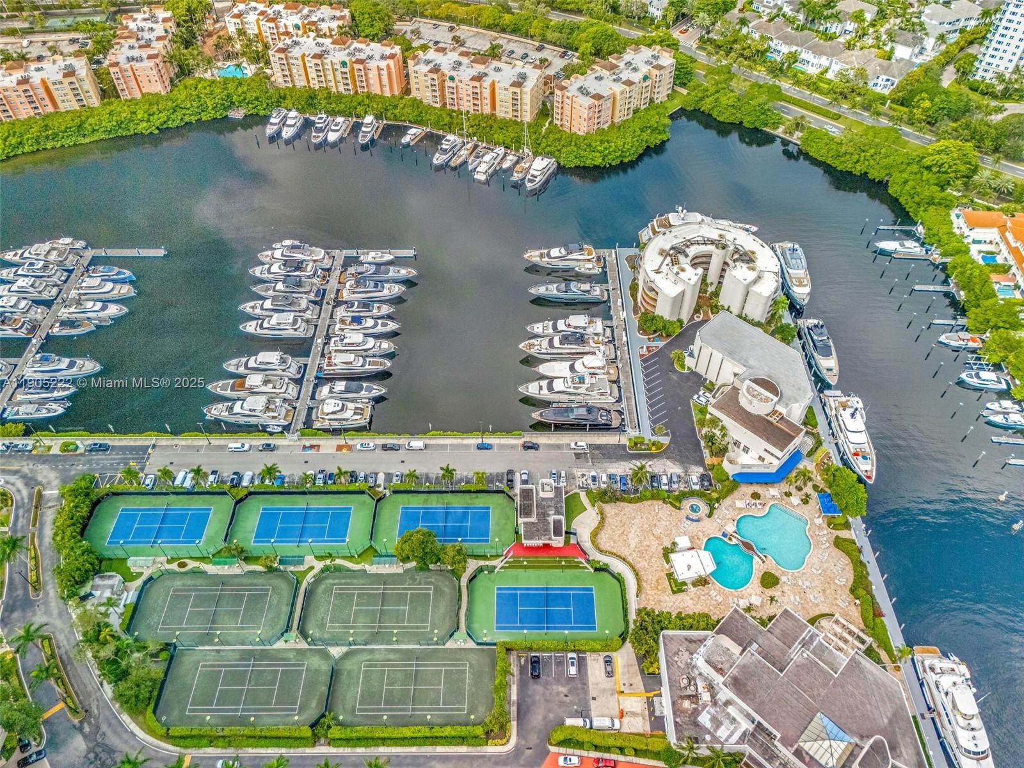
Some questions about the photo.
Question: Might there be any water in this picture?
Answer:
Yes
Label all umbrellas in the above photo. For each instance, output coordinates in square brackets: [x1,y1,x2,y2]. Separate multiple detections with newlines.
[786,494,804,509]
[735,595,753,610]
[748,592,763,609]
[732,498,748,510]
[722,520,738,536]
[764,487,780,499]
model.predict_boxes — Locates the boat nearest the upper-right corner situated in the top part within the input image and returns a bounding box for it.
[876,240,929,254]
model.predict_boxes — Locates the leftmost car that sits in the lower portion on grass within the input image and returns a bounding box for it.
[14,732,31,758]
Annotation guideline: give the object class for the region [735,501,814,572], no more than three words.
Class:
swimming pool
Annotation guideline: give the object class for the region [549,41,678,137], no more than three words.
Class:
building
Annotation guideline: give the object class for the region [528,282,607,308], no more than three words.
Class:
boat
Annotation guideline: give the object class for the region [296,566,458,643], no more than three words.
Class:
tennis court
